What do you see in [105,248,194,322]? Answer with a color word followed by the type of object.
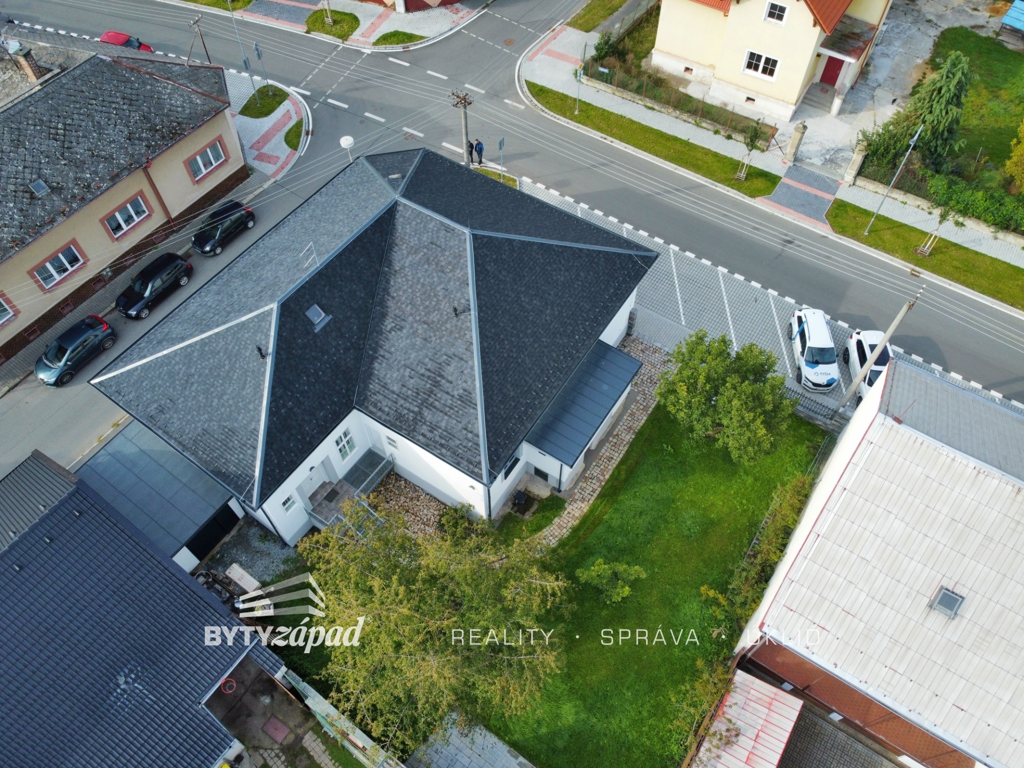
black car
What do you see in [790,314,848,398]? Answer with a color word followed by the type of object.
white car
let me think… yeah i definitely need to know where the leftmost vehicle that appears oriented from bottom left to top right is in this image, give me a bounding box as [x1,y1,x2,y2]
[23,315,115,391]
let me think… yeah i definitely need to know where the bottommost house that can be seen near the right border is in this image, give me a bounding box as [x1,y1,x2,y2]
[737,355,1024,768]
